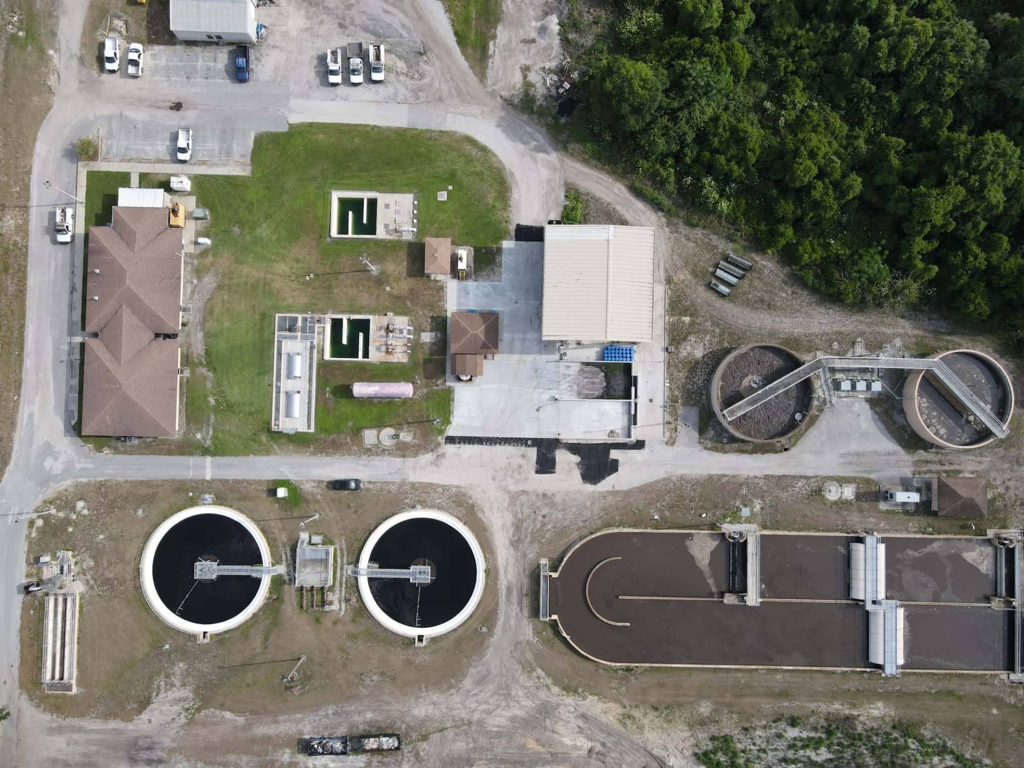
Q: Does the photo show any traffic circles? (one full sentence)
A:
No, this view has no traffic circle in it.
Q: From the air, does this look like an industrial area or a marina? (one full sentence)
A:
It's an industrial area.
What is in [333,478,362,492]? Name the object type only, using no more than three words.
car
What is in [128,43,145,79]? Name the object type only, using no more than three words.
vehicle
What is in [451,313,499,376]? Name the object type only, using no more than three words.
building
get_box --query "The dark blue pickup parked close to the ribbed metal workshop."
[234,47,250,82]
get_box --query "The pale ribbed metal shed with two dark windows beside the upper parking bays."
[170,0,260,48]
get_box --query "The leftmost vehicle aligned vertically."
[56,208,74,244]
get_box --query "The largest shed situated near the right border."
[930,477,988,518]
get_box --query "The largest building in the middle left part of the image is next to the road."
[81,188,186,436]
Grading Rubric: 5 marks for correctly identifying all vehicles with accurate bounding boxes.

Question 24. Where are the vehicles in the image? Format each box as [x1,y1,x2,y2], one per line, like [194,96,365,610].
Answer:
[104,38,120,73]
[234,47,250,82]
[348,43,362,84]
[138,0,152,14]
[128,43,145,79]
[333,478,362,492]
[327,49,341,86]
[369,43,384,83]
[56,208,74,244]
[176,128,193,164]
